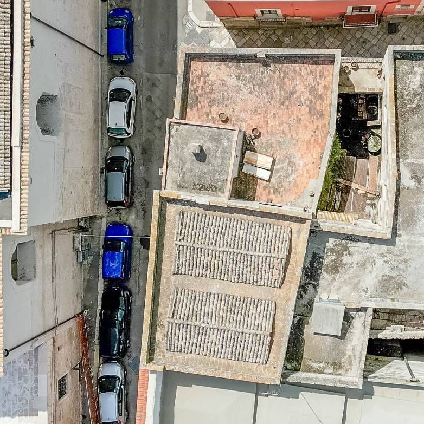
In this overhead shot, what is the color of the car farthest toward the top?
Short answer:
blue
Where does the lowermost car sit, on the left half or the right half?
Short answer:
left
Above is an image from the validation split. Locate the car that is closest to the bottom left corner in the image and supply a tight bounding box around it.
[97,360,128,424]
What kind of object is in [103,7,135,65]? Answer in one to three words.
car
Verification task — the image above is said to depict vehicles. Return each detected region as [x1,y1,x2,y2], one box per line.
[98,222,131,282]
[103,7,135,65]
[97,360,128,424]
[102,76,136,139]
[95,286,131,360]
[101,145,135,209]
